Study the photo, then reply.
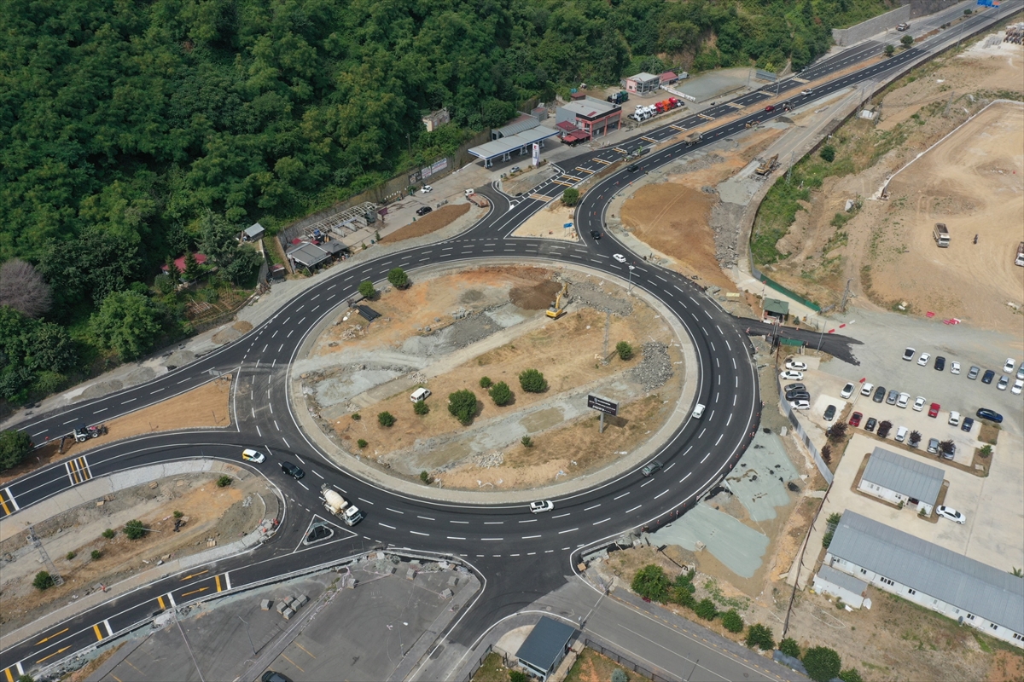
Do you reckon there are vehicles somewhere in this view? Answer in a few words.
Yes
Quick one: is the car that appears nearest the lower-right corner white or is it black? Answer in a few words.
white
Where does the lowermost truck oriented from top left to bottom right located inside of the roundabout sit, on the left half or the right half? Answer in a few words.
left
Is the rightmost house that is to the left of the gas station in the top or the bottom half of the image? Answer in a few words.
top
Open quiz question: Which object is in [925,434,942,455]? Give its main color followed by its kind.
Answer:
gray car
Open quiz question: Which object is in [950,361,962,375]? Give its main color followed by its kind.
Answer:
white vehicle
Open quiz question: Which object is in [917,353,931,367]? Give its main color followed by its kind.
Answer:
white car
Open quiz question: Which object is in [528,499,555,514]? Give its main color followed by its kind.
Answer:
white car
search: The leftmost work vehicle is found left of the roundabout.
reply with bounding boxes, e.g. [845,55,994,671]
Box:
[62,420,108,447]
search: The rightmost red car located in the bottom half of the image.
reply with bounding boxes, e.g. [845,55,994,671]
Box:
[927,402,942,418]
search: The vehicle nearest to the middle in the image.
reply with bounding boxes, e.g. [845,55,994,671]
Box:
[545,280,566,317]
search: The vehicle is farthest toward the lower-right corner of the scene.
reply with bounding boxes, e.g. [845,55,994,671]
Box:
[936,505,967,525]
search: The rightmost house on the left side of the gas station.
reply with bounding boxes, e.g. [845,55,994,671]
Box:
[423,109,450,139]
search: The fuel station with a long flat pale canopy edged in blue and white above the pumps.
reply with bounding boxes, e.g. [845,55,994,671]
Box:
[470,123,559,170]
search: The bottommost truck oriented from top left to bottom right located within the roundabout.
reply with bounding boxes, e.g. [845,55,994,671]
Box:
[320,480,362,522]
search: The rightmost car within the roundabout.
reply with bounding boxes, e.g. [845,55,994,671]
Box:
[692,404,705,419]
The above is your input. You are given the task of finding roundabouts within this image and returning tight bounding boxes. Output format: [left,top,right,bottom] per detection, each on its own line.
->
[231,237,757,560]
